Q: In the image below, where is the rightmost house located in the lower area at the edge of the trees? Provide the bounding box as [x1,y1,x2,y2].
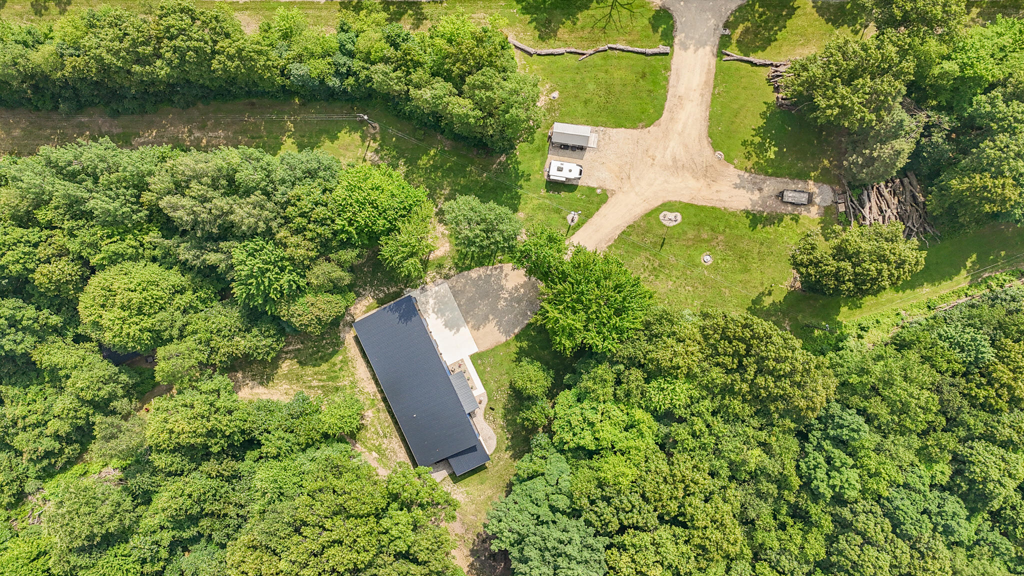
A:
[352,296,490,476]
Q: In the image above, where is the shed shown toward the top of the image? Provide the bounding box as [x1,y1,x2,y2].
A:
[552,123,595,150]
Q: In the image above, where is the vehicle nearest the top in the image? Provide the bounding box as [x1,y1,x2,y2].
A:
[548,161,585,180]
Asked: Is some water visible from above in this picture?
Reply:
No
